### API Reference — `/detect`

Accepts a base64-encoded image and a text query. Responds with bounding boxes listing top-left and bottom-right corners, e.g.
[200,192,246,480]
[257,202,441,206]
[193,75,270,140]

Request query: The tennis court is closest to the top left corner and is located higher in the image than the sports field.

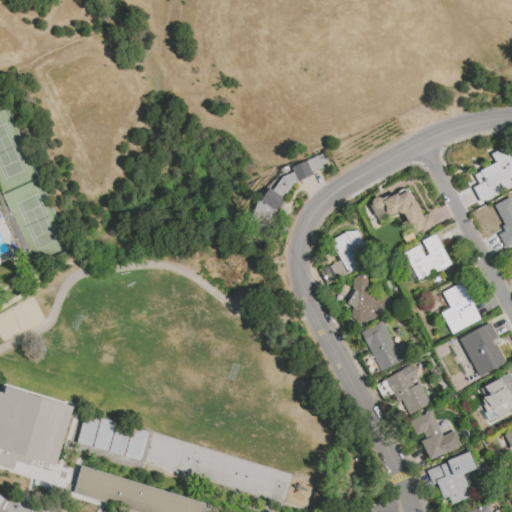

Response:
[0,109,35,193]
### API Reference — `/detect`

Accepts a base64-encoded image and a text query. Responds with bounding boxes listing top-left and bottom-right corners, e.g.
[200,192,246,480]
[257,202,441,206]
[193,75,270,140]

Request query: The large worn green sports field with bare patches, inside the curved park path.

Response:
[0,270,318,474]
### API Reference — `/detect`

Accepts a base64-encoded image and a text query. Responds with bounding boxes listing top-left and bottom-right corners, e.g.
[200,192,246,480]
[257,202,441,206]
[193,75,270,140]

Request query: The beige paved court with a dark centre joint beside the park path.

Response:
[0,296,45,342]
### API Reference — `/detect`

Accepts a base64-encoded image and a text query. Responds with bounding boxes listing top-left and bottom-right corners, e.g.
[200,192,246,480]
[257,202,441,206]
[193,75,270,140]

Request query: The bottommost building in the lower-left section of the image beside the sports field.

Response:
[71,466,206,512]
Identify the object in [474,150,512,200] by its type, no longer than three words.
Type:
house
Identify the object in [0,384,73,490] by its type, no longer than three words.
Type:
building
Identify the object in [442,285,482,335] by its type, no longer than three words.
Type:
house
